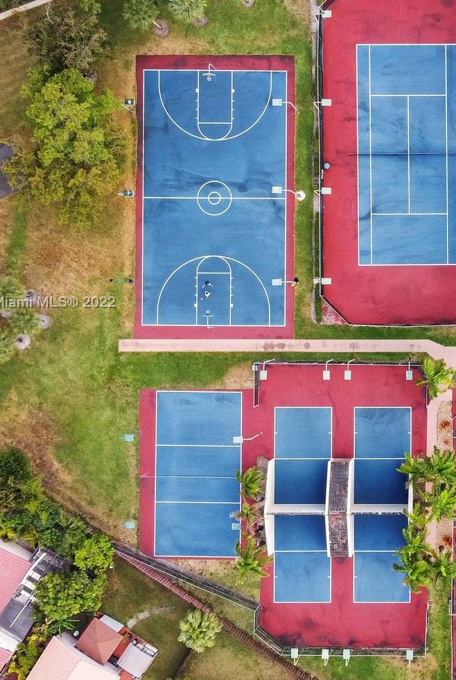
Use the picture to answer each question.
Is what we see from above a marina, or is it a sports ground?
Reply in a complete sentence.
This looks like a sports ground.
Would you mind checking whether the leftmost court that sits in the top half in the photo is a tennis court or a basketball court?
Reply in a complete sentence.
Specifically, the leftmost court that sits in the top half is a basketball court.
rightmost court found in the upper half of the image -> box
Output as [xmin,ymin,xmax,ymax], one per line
[323,0,456,324]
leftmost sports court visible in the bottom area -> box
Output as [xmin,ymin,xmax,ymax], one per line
[140,390,253,560]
